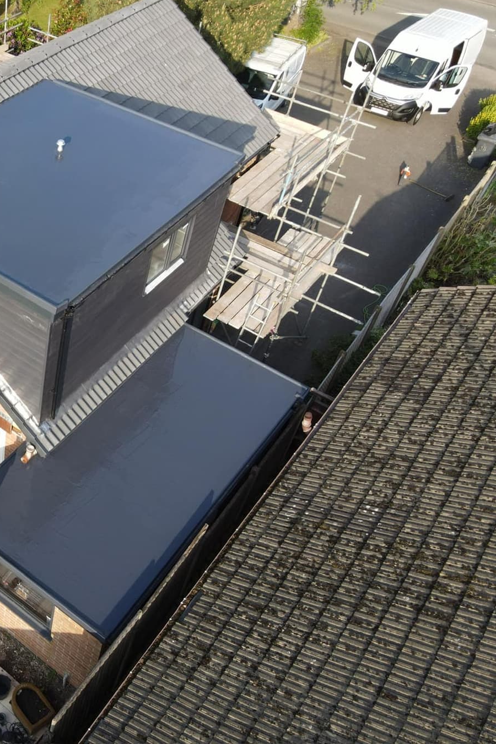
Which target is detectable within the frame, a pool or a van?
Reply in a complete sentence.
This aerial view contains a van.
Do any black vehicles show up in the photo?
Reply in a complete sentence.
No, no black vehicle can be seen from above.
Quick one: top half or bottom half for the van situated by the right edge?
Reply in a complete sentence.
The van situated by the right edge is in the top half of the image.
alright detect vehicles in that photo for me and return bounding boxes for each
[336,5,488,129]
[230,32,310,115]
